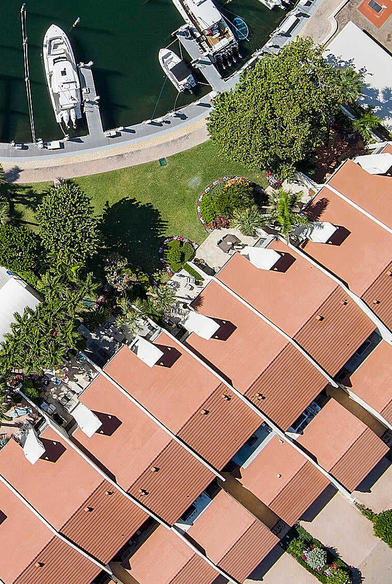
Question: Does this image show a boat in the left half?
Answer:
Yes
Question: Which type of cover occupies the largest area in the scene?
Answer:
buildings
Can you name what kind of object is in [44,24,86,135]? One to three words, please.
boat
